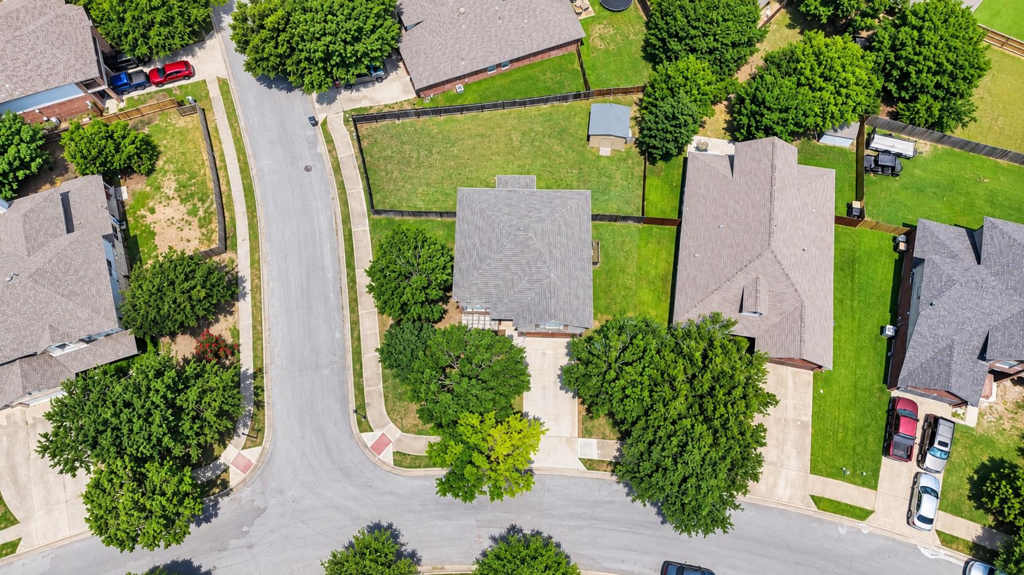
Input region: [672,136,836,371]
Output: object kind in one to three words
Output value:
house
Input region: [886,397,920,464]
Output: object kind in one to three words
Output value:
truck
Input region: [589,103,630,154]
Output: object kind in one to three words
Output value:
shed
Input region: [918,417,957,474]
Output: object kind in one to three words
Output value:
car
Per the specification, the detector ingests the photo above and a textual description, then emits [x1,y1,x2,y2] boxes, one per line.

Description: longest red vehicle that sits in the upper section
[149,57,196,87]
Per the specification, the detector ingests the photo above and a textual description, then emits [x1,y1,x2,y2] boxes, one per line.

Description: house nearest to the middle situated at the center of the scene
[451,175,593,336]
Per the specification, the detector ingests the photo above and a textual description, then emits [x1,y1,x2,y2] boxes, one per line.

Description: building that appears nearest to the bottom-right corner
[889,216,1024,407]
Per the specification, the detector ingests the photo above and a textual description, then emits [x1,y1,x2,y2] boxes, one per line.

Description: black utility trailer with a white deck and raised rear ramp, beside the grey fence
[871,126,925,158]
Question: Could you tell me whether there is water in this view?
No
